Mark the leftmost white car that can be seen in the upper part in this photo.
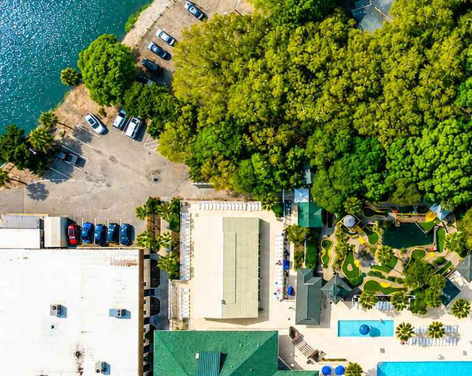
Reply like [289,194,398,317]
[86,113,104,134]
